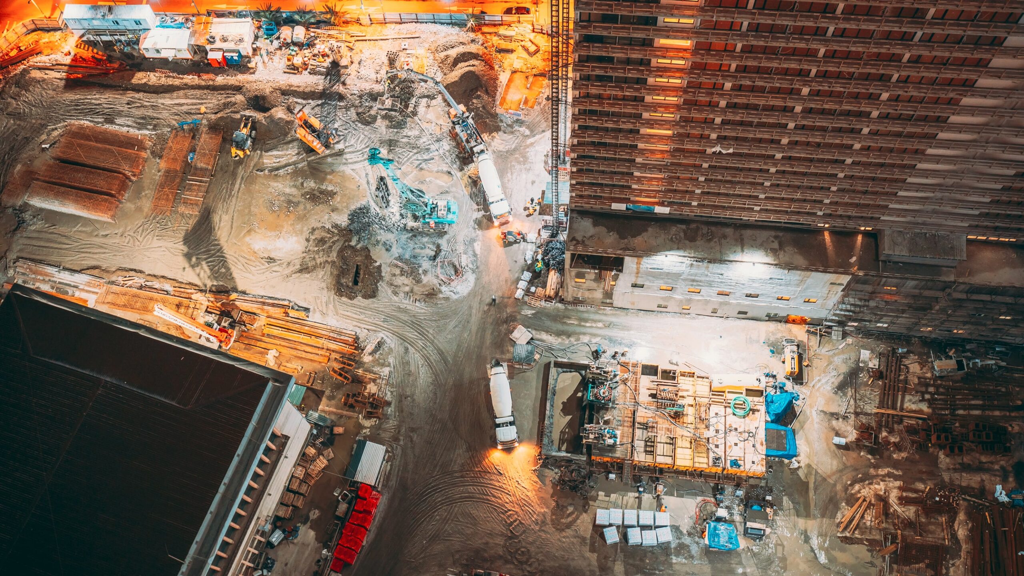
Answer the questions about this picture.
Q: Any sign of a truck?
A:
Yes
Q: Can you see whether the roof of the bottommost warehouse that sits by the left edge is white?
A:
No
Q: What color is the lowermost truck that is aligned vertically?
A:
white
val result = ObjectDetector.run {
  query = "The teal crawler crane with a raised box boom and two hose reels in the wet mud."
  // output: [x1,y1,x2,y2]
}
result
[366,144,458,241]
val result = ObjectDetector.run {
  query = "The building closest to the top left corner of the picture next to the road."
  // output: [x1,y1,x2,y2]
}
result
[62,4,156,56]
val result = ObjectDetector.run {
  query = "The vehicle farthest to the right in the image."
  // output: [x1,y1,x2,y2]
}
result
[781,339,799,374]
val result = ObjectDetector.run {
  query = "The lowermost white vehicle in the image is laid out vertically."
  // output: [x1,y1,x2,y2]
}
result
[485,357,520,452]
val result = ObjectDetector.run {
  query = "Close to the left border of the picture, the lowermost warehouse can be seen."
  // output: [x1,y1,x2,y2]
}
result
[0,284,296,576]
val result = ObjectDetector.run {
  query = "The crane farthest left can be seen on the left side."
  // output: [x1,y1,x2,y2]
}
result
[153,302,244,356]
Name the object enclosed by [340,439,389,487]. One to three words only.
shed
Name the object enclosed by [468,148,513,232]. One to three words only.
truck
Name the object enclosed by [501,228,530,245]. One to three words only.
work vehicle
